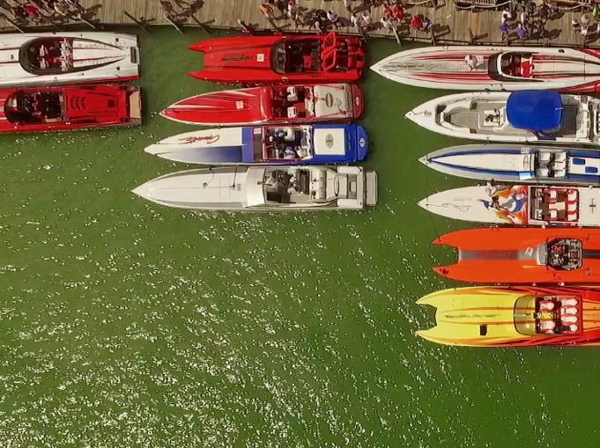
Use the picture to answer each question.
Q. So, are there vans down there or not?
No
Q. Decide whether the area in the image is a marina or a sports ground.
marina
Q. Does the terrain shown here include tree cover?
No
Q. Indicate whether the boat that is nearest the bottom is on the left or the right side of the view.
right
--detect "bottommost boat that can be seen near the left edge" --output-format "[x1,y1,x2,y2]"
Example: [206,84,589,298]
[0,85,149,132]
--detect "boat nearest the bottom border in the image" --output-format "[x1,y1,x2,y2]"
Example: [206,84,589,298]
[416,286,600,348]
